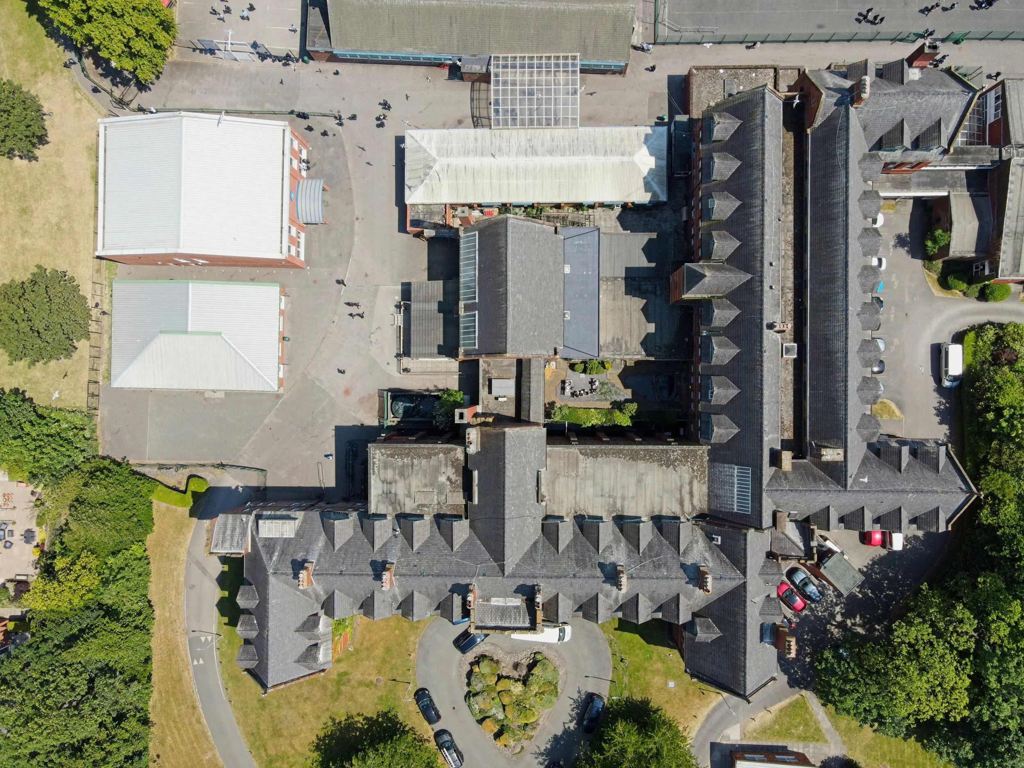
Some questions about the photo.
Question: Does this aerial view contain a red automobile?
Yes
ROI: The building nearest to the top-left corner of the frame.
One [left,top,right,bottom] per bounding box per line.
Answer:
[93,110,303,265]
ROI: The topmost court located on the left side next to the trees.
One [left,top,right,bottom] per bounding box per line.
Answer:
[177,0,301,56]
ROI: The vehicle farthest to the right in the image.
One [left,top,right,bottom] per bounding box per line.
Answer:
[938,345,963,388]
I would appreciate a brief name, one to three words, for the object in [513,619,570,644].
vehicle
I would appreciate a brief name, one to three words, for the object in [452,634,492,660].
car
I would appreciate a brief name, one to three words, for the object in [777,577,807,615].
car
